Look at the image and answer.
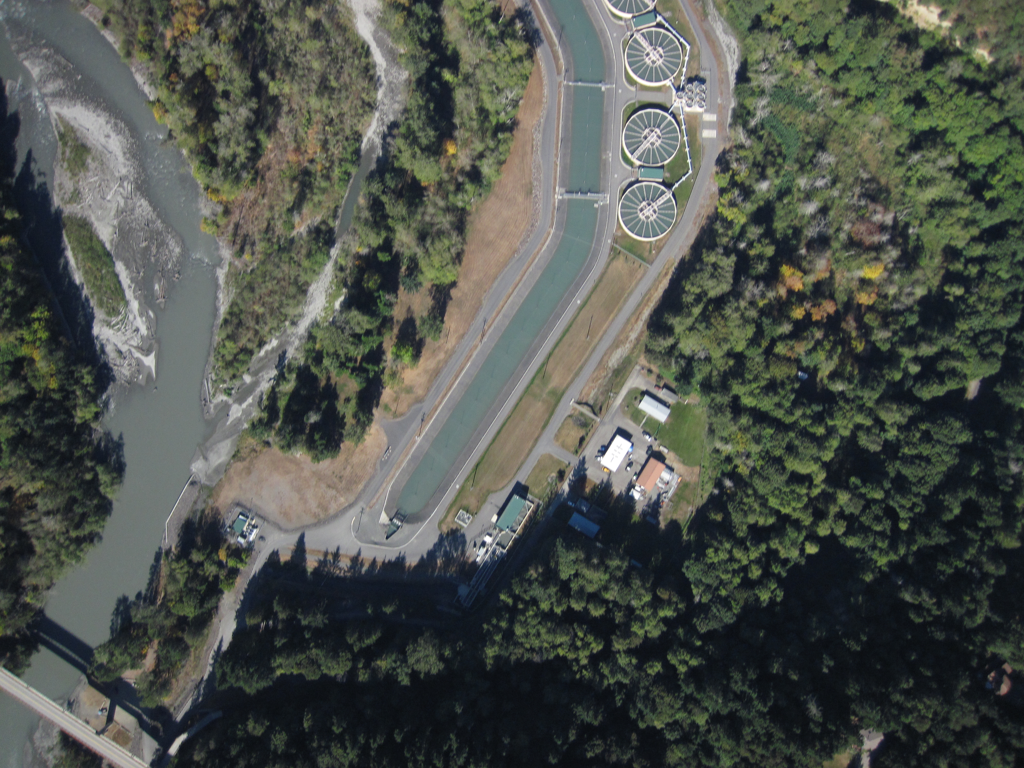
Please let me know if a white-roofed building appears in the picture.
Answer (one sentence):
Yes, looking at the shot, I can spot a white-roofed building.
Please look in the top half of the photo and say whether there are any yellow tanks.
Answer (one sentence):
No, there is no yellow tank in the top half of the photo.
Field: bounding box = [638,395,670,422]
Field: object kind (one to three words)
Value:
house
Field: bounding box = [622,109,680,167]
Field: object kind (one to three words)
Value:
storage tank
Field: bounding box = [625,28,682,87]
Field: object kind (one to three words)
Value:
storage tank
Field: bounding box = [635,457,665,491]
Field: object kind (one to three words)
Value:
building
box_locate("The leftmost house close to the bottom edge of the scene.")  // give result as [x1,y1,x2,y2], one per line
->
[857,723,881,741]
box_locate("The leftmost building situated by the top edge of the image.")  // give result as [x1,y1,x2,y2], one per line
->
[631,11,656,32]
